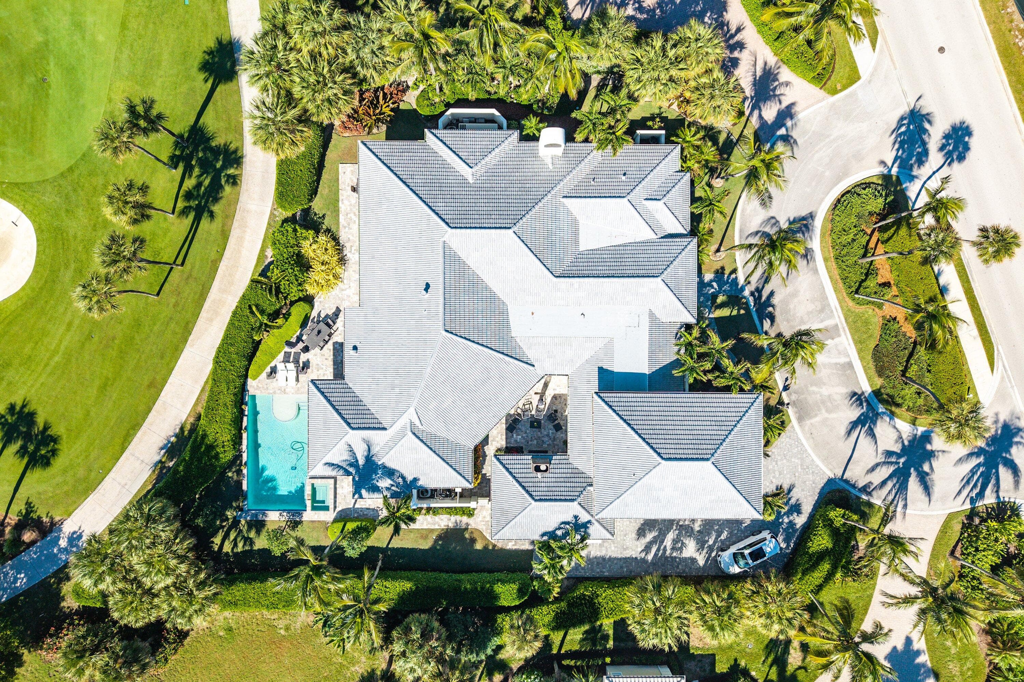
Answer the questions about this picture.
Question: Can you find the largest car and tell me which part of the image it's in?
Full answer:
The largest car is in the bottom right part of the image.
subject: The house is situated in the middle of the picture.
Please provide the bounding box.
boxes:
[307,127,764,541]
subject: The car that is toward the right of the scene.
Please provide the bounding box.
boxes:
[718,529,779,574]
